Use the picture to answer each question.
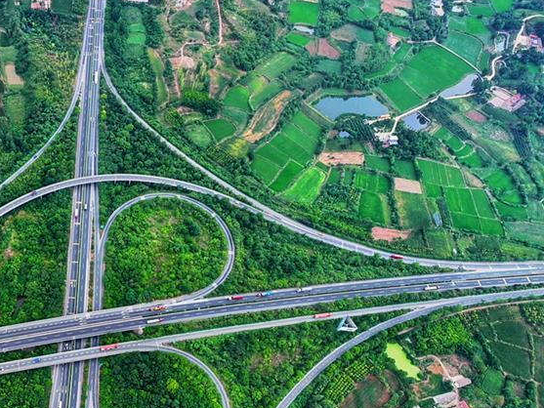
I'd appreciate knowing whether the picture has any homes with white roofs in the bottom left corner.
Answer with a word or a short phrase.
No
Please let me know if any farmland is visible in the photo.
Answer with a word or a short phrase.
Yes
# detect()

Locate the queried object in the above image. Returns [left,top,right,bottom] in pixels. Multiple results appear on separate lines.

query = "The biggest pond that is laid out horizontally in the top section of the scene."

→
[314,94,392,121]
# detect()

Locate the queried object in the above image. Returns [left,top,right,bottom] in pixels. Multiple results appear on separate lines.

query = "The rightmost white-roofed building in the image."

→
[513,33,544,54]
